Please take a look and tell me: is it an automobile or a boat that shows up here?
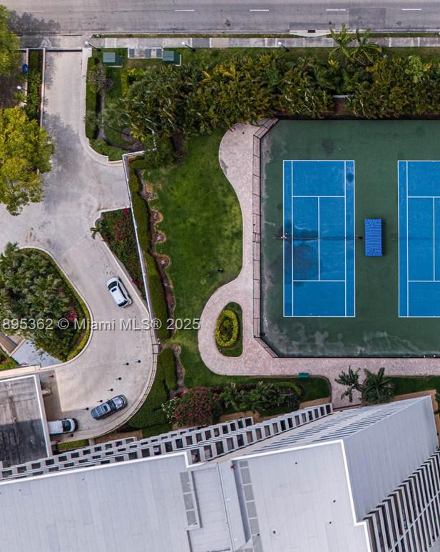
automobile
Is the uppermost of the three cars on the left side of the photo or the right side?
left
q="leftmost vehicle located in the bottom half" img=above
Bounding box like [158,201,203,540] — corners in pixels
[48,418,76,434]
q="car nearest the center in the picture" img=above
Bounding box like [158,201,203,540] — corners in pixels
[109,278,133,308]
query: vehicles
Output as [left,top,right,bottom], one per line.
[109,278,133,308]
[92,396,126,418]
[48,418,76,434]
